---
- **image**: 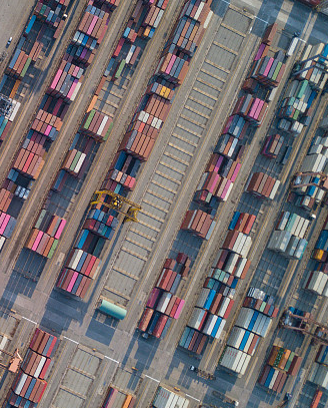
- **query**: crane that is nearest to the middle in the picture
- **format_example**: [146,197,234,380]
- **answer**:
[81,185,144,225]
